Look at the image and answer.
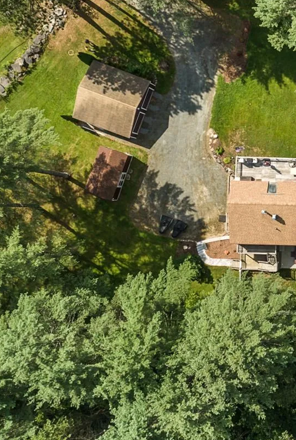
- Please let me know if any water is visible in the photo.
No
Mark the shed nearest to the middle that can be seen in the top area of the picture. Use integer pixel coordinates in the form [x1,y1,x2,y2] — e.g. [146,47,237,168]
[84,145,133,199]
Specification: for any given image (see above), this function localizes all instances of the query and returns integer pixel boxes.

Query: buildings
[84,145,133,199]
[226,156,296,274]
[73,61,155,138]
